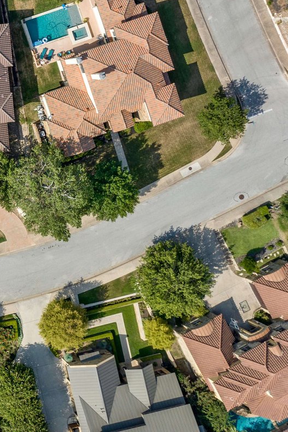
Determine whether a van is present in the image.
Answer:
No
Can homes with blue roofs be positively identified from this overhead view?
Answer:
No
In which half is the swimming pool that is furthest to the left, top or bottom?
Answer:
top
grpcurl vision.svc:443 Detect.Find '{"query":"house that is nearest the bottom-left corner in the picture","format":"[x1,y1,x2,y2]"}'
[59,349,202,432]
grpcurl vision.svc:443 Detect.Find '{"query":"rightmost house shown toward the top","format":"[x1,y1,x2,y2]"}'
[37,0,187,154]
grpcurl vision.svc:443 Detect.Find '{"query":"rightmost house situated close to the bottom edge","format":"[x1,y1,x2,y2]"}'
[171,309,288,432]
